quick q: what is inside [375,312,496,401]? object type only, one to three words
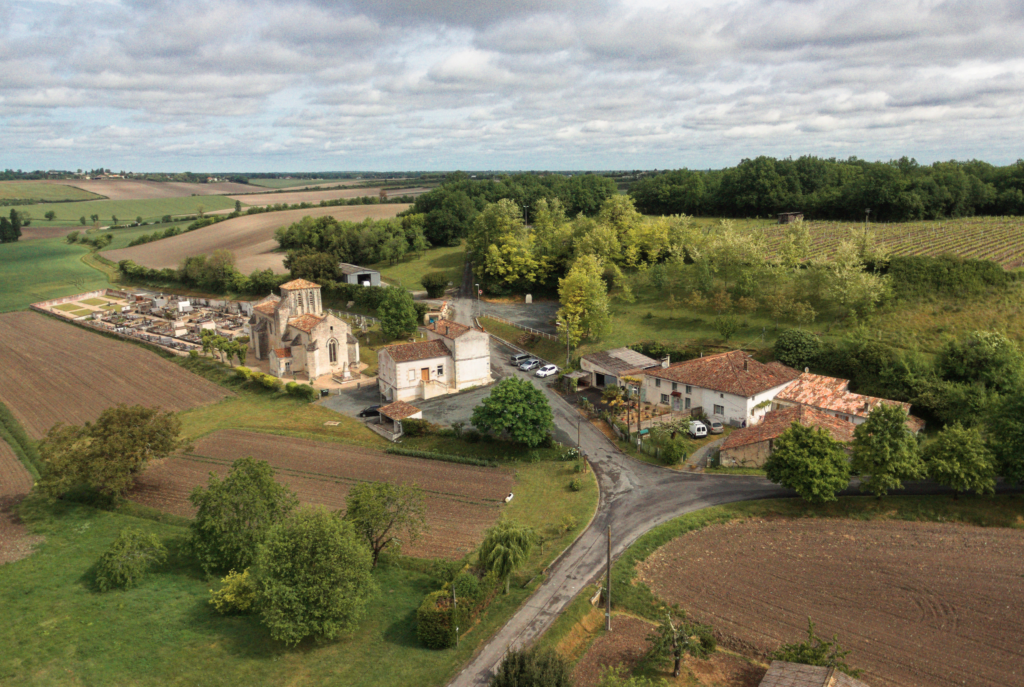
building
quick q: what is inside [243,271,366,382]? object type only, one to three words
building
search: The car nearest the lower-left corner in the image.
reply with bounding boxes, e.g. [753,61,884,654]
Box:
[355,405,382,418]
